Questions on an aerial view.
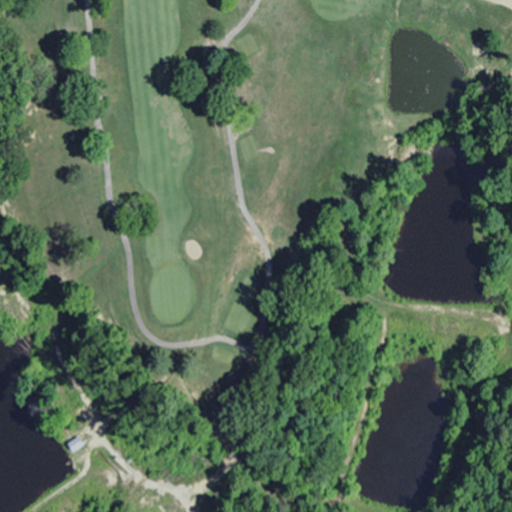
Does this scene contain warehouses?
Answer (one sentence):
No, there appears to be no warehouse in this shot.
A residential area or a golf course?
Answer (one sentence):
The area seen from above is a golf course.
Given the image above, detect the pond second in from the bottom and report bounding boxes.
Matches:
[385,138,490,304]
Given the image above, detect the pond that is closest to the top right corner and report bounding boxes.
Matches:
[388,28,466,114]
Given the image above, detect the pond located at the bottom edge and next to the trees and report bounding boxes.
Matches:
[356,356,449,510]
